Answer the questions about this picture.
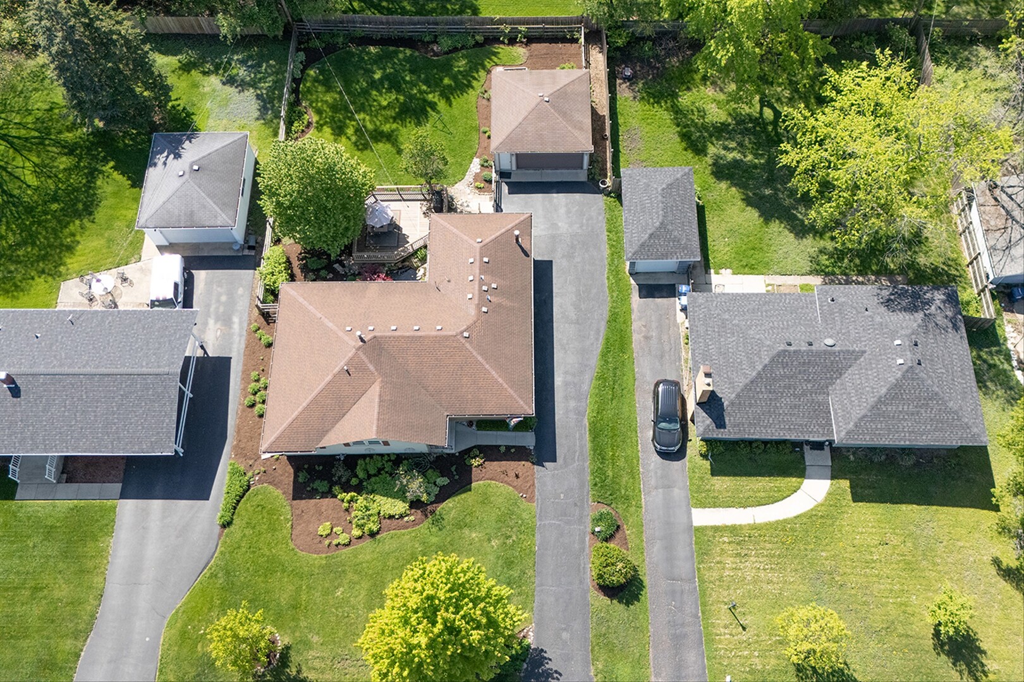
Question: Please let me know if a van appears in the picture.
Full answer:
Yes, there is a van in the image.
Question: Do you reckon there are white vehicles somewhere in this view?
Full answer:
Yes, a white vehicle is visible in the scene.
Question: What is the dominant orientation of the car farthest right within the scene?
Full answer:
The car farthest right has been laid out vertically relative to the frame.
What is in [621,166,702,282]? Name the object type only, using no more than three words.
building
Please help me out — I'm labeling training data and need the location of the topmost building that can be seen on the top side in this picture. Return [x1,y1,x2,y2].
[490,68,594,169]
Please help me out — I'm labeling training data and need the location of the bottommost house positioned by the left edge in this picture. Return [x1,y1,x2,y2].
[0,307,206,481]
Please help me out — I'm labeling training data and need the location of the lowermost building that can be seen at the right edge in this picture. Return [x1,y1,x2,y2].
[683,284,989,466]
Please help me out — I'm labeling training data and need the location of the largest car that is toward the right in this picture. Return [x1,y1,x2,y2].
[650,381,687,456]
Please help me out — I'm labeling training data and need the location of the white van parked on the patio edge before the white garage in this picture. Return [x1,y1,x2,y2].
[145,254,192,307]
